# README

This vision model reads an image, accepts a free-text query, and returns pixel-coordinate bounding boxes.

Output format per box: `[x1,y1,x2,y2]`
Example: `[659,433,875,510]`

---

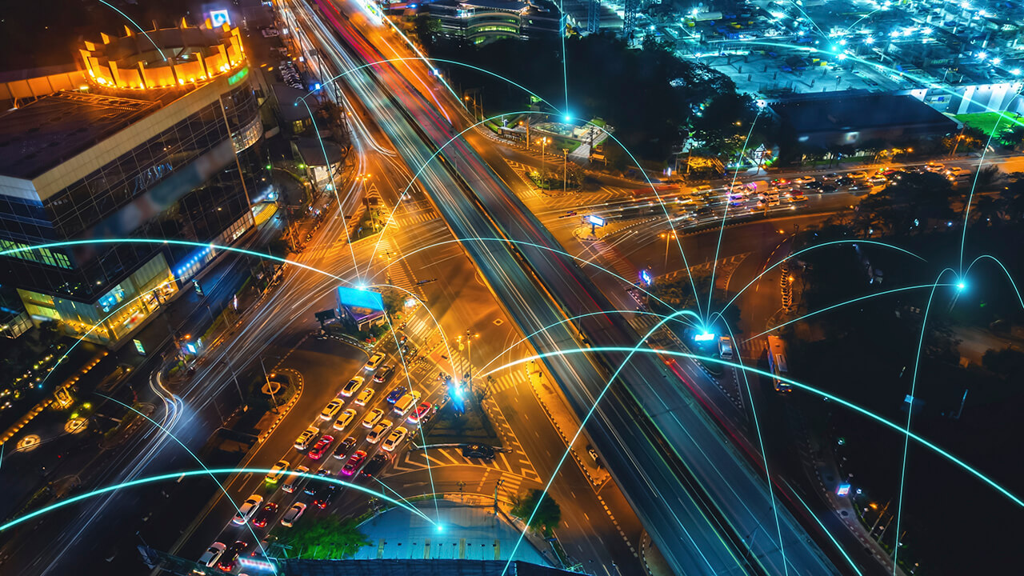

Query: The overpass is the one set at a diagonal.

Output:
[296,0,849,576]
